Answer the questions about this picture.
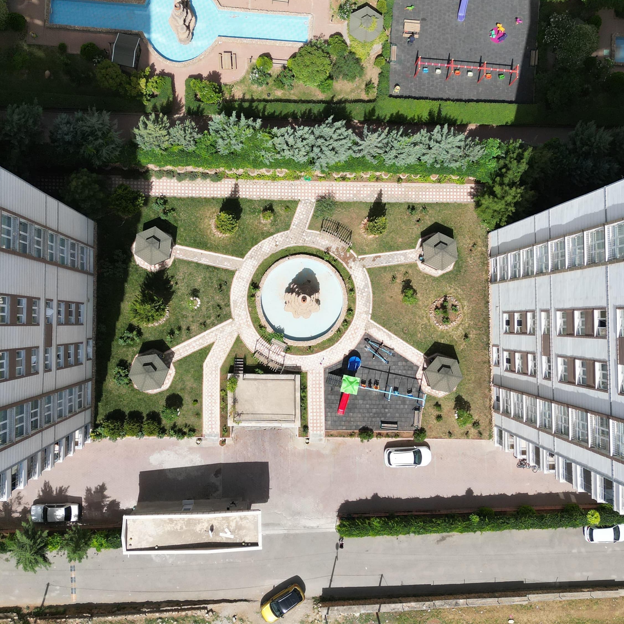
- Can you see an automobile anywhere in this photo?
Yes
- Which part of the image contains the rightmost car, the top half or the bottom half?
bottom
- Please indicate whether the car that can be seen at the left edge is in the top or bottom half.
bottom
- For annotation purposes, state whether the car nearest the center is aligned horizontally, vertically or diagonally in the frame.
horizontally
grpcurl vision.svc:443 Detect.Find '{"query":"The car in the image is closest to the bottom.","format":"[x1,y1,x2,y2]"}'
[261,581,306,624]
